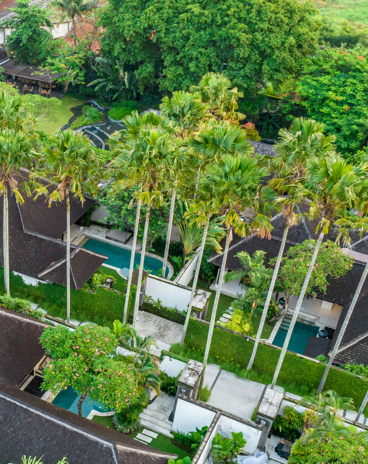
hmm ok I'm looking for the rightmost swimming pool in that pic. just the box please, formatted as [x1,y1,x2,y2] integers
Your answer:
[267,320,318,351]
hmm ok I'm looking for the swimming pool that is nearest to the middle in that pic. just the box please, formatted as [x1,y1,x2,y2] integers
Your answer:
[74,235,177,282]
